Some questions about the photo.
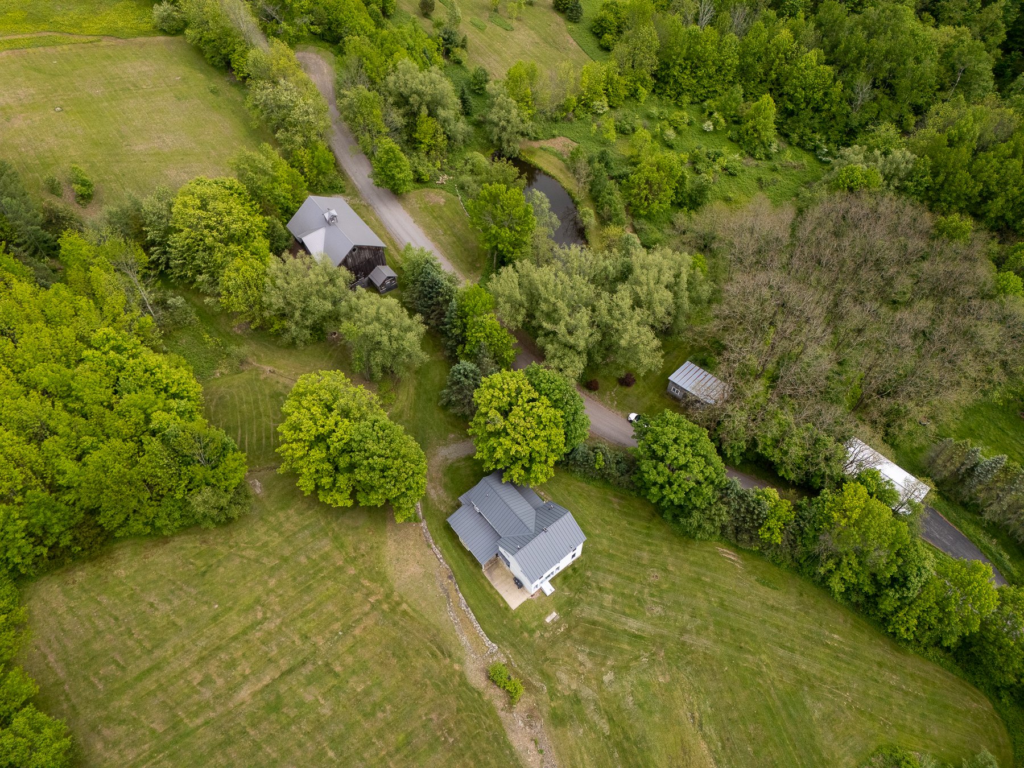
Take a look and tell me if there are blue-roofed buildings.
No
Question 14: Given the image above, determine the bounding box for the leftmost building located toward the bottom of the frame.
[445,473,587,594]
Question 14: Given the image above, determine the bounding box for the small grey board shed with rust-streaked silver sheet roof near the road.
[668,357,729,411]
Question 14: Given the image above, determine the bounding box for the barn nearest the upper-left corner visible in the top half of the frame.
[287,195,386,289]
